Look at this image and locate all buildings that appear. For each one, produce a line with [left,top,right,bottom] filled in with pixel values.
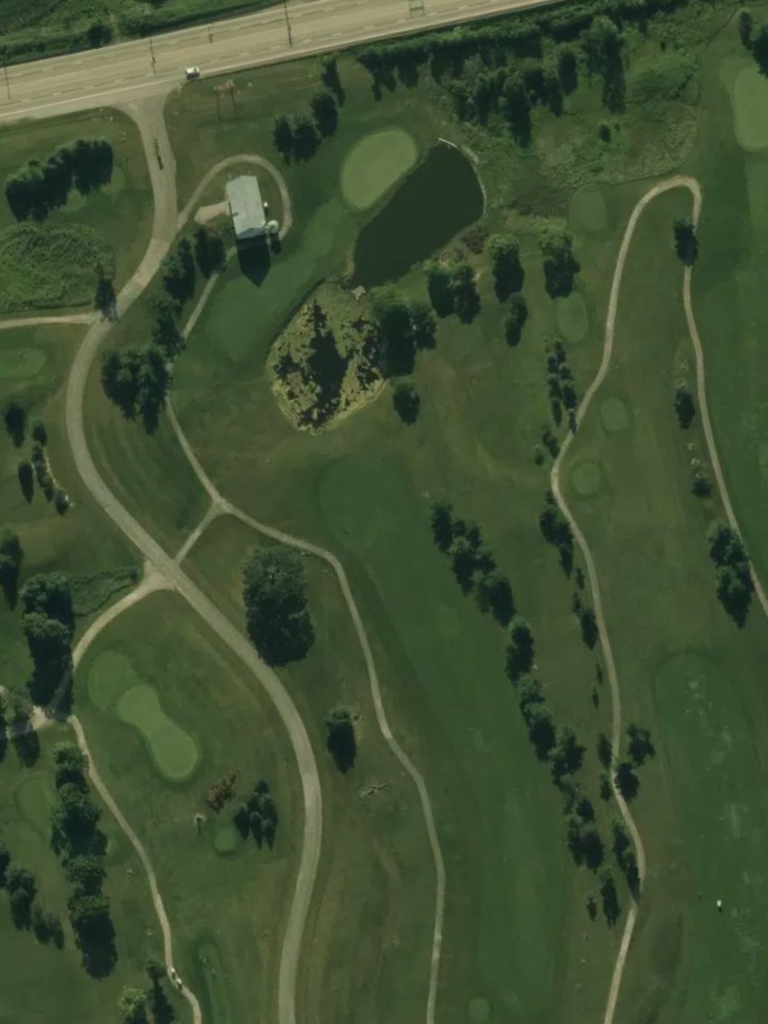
[226,177,265,237]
